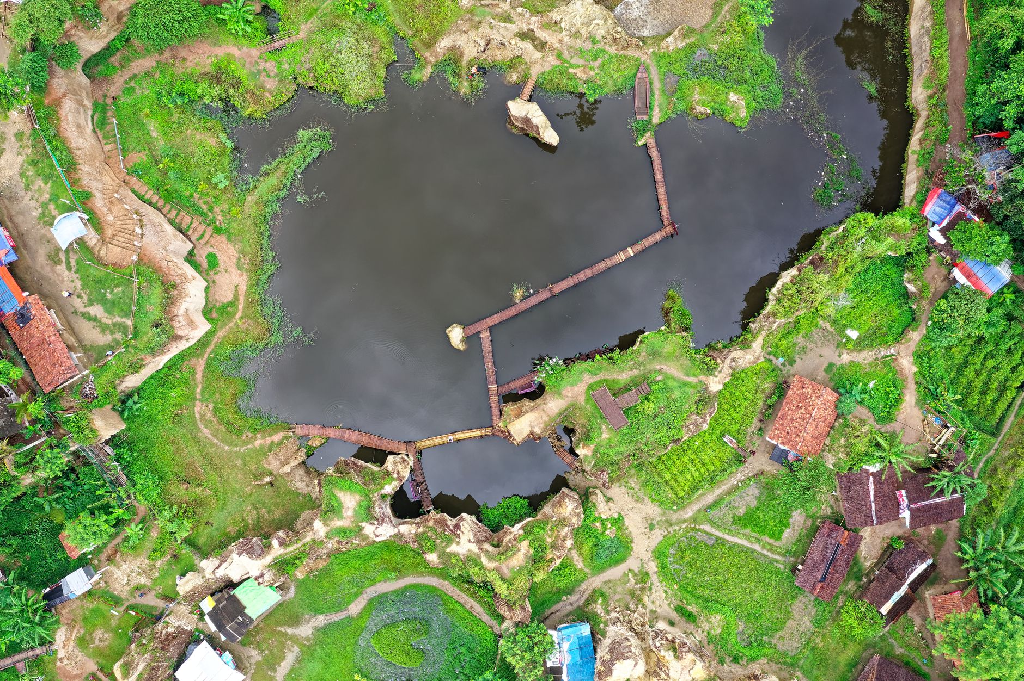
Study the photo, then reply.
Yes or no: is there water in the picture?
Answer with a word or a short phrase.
Yes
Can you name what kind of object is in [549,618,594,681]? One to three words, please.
house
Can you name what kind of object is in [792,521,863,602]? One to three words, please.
house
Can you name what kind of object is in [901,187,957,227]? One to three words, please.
shed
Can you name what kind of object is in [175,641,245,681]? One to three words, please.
building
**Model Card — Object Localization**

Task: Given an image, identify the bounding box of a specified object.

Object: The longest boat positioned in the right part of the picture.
[635,56,650,120]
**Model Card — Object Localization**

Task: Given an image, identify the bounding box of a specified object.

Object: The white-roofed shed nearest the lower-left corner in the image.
[44,566,109,609]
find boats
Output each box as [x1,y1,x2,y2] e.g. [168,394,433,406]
[671,221,680,235]
[635,56,650,120]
